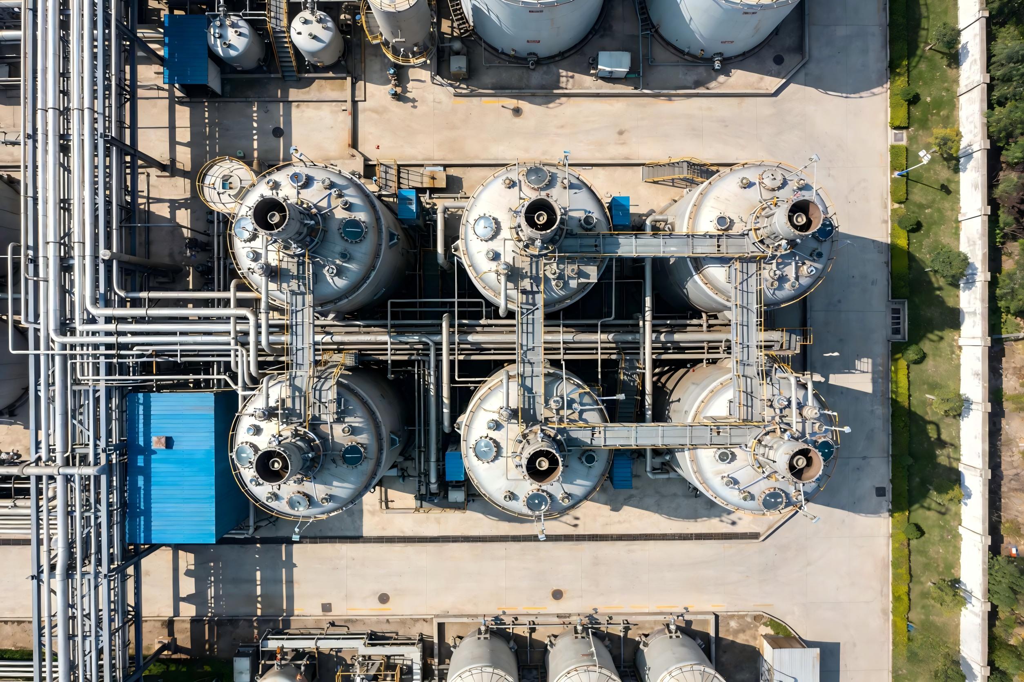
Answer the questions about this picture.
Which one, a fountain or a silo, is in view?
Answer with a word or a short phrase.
silo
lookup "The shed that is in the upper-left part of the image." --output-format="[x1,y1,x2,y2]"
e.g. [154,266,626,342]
[164,14,221,95]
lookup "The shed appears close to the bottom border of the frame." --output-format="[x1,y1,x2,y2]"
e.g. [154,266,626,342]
[760,633,820,682]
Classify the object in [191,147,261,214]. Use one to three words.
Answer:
silo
